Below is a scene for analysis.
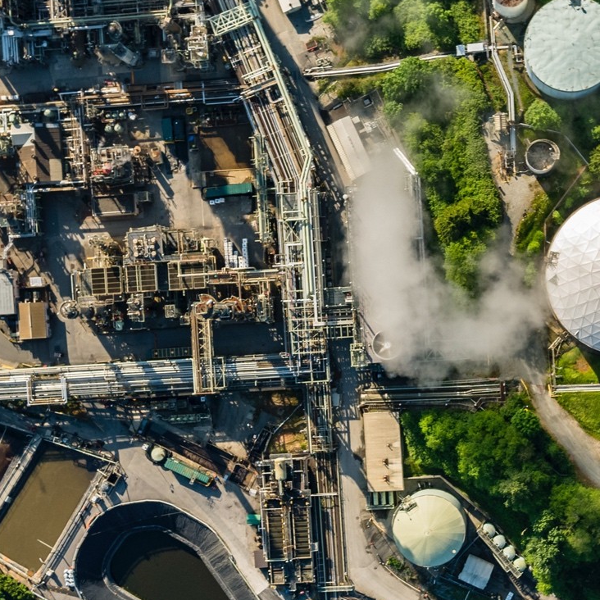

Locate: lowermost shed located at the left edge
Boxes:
[18,301,53,339]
